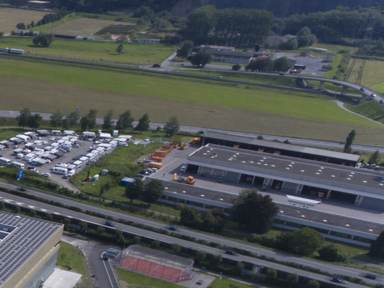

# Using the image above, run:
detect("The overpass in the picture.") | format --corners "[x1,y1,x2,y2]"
[171,69,384,110]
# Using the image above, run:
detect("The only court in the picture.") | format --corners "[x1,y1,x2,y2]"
[117,239,197,283]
